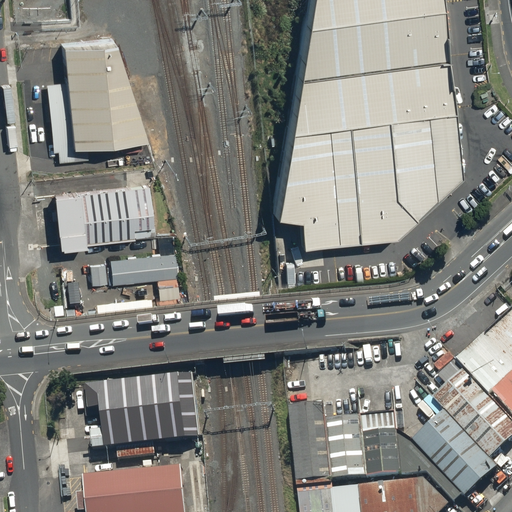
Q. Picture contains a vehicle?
Yes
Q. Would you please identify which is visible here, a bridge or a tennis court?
bridge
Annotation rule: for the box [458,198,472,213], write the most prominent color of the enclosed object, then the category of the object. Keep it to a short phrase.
white vehicle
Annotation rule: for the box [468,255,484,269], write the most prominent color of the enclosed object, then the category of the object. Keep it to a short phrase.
white car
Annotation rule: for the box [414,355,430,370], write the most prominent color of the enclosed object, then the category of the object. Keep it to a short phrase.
gray vehicle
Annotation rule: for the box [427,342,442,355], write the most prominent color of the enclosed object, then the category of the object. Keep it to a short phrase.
white vehicle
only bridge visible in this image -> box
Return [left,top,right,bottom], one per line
[184,288,292,362]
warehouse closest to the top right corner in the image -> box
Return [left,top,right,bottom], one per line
[273,0,464,252]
